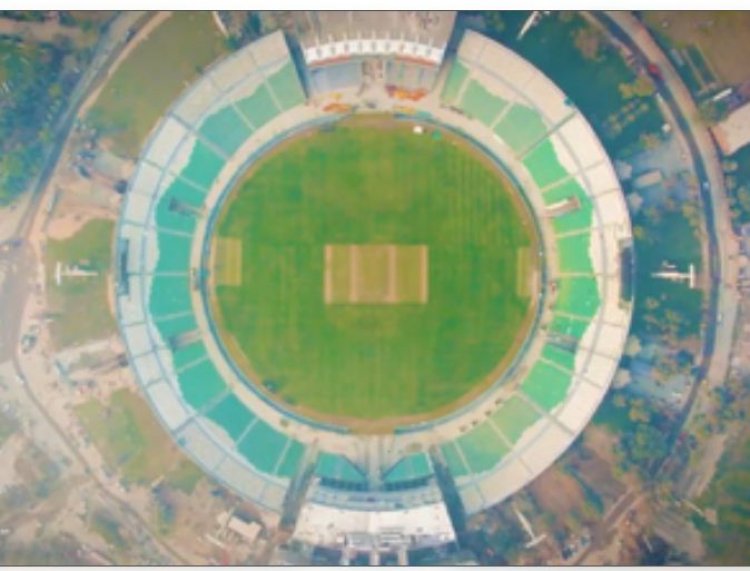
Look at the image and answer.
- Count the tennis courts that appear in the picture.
none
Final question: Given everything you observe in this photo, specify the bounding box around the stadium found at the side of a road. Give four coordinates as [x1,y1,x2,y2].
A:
[116,0,634,571]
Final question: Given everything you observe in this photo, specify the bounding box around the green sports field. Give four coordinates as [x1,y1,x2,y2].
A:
[207,118,541,430]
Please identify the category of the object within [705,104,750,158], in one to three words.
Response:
building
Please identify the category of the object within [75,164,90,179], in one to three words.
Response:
vehicle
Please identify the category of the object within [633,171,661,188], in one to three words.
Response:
building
